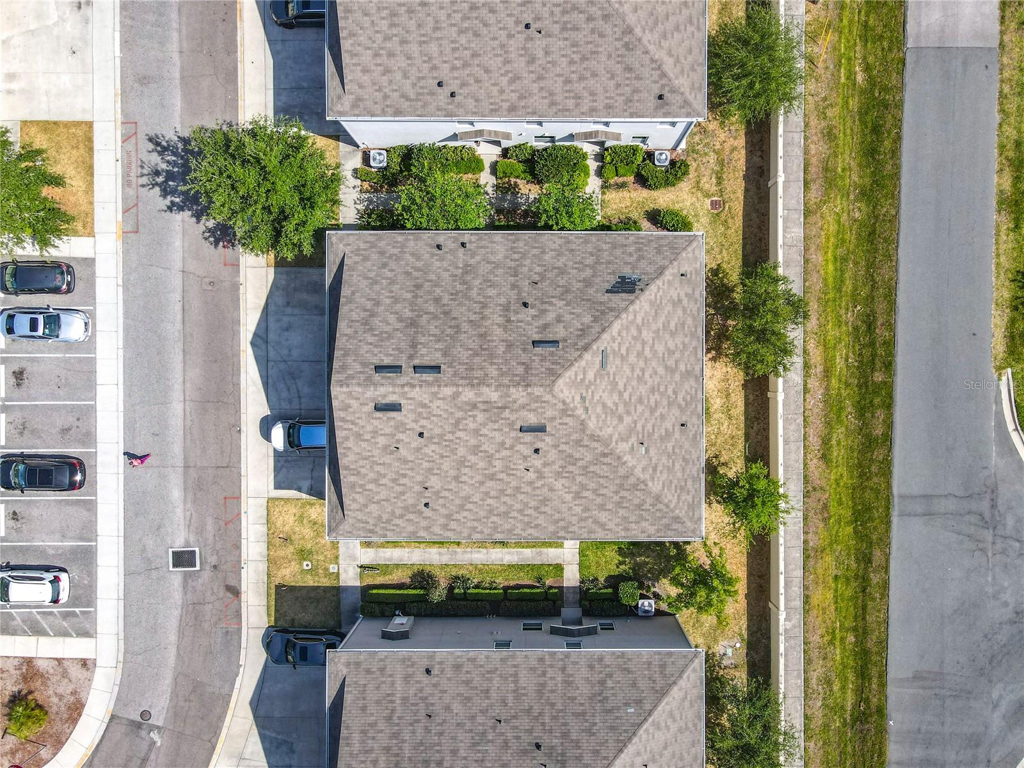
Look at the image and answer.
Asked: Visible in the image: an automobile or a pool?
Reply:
automobile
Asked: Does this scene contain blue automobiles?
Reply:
Yes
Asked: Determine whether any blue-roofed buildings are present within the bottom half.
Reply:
No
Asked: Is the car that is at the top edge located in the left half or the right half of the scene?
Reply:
left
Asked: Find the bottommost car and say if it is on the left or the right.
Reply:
left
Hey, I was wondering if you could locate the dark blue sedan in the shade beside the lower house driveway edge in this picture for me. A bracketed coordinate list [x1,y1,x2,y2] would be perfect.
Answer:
[266,628,347,668]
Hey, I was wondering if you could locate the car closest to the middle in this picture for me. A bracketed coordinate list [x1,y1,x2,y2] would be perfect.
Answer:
[272,417,327,454]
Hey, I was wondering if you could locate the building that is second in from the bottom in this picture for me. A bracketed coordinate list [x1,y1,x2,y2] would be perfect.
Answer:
[327,232,704,541]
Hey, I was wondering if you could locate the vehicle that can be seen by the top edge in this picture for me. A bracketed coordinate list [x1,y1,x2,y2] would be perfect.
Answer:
[271,0,327,27]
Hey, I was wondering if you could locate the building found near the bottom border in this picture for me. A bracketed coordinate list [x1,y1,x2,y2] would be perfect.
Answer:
[327,608,704,768]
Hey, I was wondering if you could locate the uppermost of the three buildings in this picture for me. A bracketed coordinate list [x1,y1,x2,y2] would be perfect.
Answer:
[327,0,706,155]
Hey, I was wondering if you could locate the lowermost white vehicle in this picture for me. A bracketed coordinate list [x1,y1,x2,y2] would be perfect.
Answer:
[0,568,70,609]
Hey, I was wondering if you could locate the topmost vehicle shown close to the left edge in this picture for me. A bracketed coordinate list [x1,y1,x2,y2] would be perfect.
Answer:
[0,259,75,298]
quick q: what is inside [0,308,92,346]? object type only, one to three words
car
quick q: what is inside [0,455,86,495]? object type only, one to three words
car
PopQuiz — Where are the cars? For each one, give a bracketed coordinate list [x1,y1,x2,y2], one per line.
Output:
[0,259,75,298]
[266,628,347,668]
[0,568,70,609]
[0,455,86,495]
[0,308,92,346]
[272,417,327,454]
[271,0,327,27]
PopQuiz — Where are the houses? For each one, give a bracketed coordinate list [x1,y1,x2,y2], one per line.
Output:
[327,0,706,155]
[327,232,704,541]
[327,608,704,768]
